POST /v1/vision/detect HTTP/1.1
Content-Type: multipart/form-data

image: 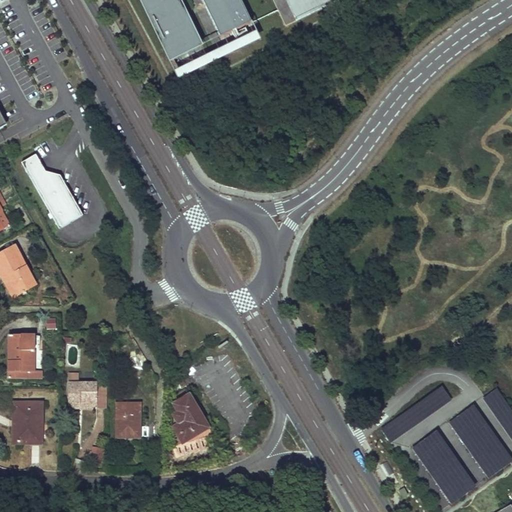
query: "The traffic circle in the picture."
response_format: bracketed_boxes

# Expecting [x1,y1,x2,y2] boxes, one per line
[162,190,296,328]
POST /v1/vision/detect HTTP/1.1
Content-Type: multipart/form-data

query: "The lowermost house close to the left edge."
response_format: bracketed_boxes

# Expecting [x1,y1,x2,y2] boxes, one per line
[12,400,45,445]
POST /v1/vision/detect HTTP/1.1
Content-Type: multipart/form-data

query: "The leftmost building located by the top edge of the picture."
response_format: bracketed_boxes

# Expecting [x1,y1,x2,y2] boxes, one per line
[138,0,202,61]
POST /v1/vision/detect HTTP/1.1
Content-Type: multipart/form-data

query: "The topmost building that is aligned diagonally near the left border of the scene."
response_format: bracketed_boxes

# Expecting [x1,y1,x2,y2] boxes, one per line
[22,152,83,229]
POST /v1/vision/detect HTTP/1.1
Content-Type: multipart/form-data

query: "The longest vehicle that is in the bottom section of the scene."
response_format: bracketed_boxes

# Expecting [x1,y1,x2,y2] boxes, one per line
[354,450,367,472]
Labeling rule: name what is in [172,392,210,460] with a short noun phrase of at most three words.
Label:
house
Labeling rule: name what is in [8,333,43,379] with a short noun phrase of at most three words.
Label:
house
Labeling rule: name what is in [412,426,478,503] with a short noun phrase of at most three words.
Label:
building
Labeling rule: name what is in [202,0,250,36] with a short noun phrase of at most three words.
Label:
building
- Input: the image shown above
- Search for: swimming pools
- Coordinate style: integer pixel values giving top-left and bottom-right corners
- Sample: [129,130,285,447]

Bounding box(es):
[66,344,80,368]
